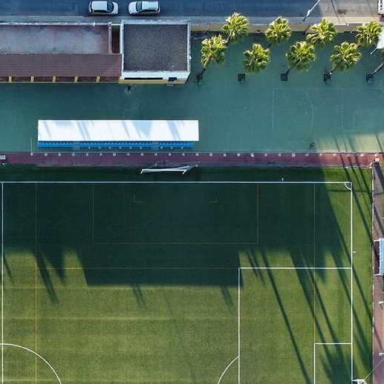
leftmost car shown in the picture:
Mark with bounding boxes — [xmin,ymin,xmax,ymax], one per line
[89,0,118,16]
